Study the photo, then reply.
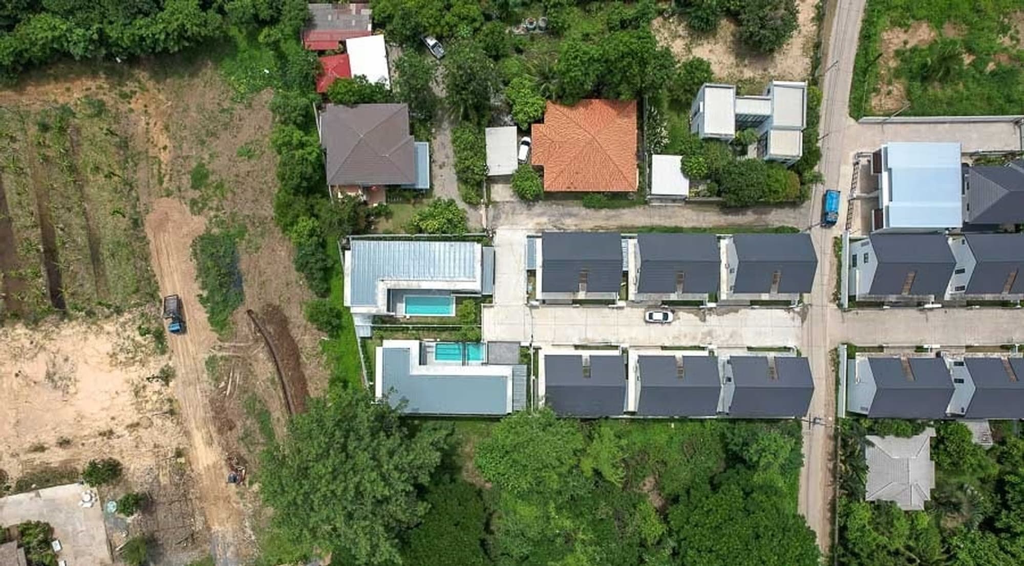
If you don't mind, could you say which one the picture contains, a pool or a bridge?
pool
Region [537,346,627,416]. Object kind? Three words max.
house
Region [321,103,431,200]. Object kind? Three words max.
house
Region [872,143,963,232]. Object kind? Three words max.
building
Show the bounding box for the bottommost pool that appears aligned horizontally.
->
[433,342,485,362]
